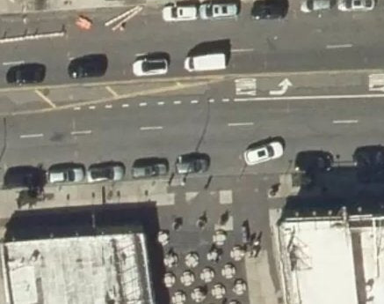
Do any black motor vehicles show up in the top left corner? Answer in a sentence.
Yes, the scene does show a black motor vehicle in the top left corner.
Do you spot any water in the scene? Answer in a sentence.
No, the scene doesn't show any water.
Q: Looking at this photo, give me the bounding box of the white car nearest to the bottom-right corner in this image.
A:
[243,142,283,164]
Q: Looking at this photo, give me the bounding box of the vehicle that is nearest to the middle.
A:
[175,157,210,174]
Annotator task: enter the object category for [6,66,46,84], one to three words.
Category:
car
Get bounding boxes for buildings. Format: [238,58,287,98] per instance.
[281,221,384,304]
[1,230,154,304]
